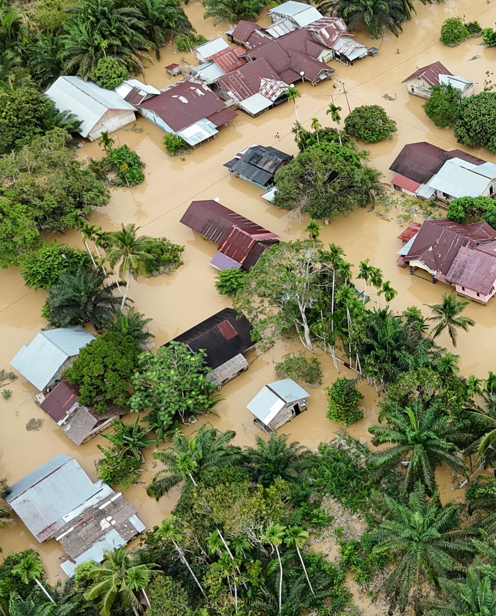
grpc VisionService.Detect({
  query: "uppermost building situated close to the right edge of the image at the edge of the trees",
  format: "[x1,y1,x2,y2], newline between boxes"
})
[409,61,473,98]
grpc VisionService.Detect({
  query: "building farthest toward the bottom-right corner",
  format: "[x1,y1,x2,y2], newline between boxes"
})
[248,379,309,436]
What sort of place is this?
residential area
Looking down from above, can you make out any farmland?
No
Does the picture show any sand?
No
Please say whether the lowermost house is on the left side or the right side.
left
